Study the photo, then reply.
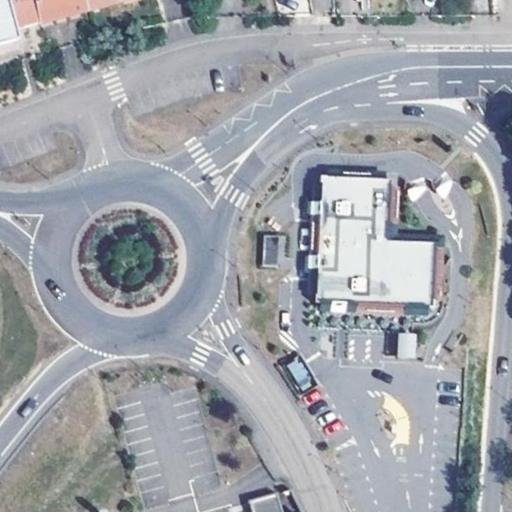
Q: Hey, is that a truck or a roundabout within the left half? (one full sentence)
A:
There is a roundabout within the left half.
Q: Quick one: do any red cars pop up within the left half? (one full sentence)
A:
No, I see no red car within the left half.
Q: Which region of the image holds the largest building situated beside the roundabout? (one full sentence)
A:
Look in the right portion of the view to spot the largest building situated beside the roundabout.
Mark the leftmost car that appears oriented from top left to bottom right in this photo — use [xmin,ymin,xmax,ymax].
[45,279,64,300]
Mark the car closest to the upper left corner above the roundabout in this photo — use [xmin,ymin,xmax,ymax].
[212,69,225,92]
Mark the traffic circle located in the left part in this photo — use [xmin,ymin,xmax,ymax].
[30,162,227,358]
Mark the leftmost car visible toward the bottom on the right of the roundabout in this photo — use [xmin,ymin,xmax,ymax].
[232,344,250,366]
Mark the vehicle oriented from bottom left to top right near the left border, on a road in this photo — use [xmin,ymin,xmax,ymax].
[18,396,38,416]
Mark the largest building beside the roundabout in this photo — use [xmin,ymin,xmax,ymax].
[308,172,446,316]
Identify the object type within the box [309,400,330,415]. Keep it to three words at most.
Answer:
car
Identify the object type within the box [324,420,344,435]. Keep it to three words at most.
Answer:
car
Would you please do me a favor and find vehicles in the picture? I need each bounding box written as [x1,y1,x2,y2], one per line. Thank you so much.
[372,368,394,384]
[324,420,344,435]
[280,0,302,11]
[45,279,64,300]
[212,69,225,92]
[302,390,322,404]
[498,356,508,376]
[438,382,460,392]
[438,395,460,405]
[403,106,424,116]
[316,410,336,426]
[309,400,330,415]
[18,396,38,416]
[232,344,250,366]
[300,228,310,250]
[282,310,292,330]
